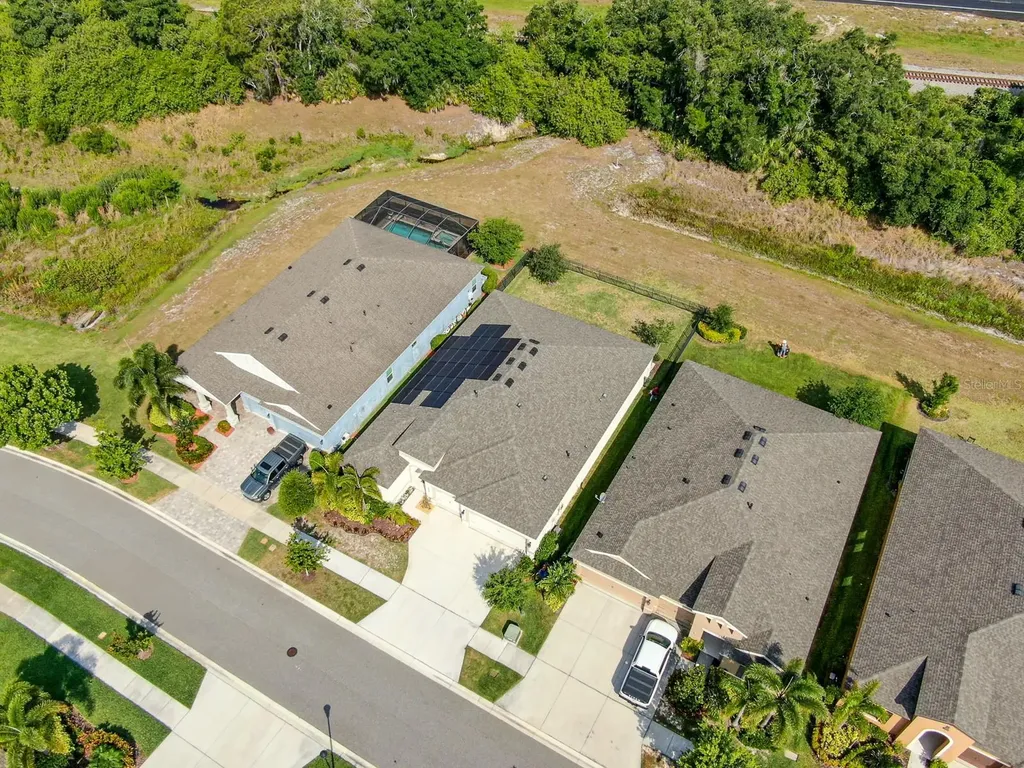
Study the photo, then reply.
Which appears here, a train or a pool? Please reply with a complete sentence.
The one in the frame is a pool.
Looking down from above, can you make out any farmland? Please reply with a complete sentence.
No, there is no farmland in the image.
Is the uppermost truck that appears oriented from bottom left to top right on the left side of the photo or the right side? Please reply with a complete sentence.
You can find the uppermost truck that appears oriented from bottom left to top right on the left side of the picture.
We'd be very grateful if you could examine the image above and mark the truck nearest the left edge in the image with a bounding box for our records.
[241,439,306,505]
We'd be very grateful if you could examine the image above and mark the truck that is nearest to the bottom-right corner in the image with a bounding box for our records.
[617,614,683,703]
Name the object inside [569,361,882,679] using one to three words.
house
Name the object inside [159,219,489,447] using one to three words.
house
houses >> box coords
[840,426,1024,768]
[333,290,656,555]
[569,361,882,679]
[159,219,489,447]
